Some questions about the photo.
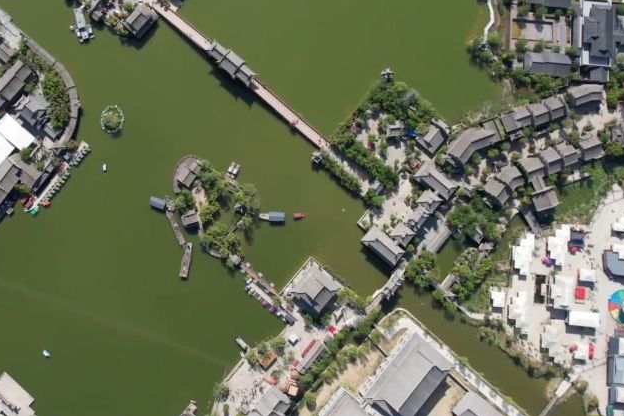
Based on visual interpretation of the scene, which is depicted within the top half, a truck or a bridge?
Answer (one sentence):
The feature located within the top half is a bridge.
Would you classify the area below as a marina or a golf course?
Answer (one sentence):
This image shows a marina.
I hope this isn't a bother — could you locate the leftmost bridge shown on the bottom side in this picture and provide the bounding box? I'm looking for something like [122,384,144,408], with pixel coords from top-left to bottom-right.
[366,256,413,313]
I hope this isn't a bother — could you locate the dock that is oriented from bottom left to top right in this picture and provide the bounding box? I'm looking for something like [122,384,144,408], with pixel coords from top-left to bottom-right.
[29,140,86,210]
